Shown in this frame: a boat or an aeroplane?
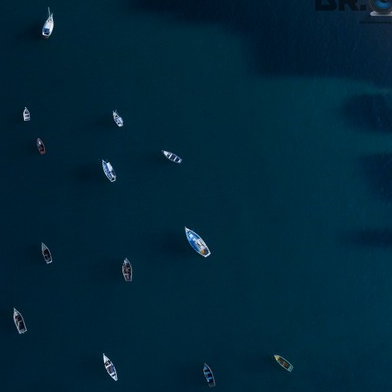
boat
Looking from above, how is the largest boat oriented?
diagonally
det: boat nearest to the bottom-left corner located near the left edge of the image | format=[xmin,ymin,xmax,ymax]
[13,308,26,334]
